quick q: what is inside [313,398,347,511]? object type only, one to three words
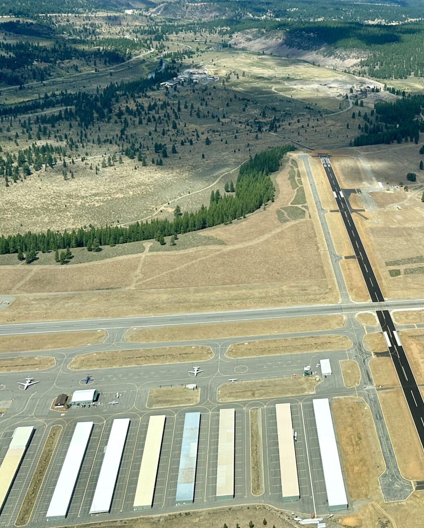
hangar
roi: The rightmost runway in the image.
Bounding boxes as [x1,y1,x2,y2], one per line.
[320,156,424,450]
